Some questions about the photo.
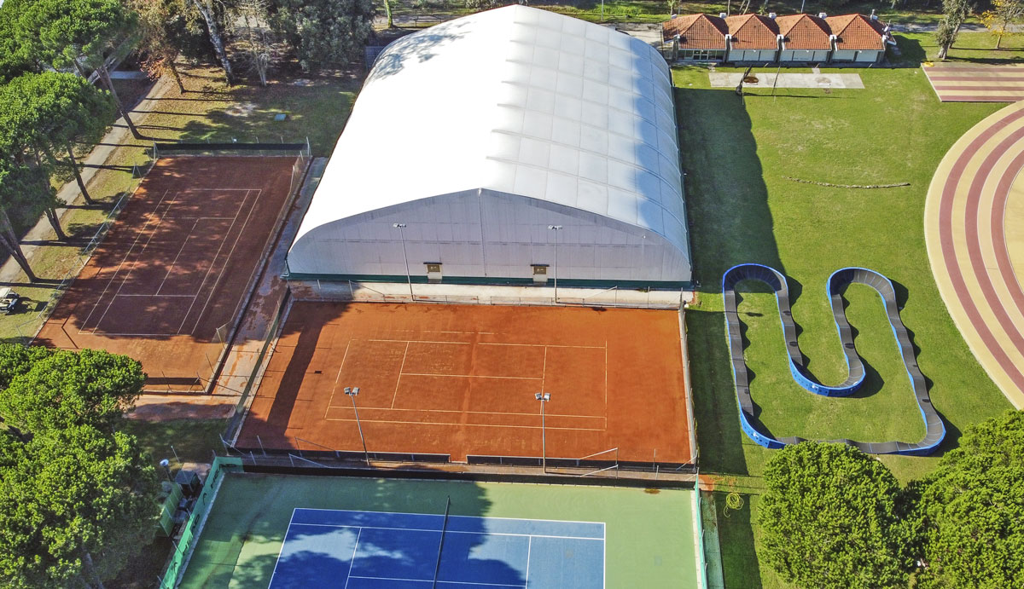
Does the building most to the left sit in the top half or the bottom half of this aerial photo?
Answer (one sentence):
You can find the building most to the left in the top half.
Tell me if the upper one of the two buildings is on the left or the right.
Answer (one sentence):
It is on the right.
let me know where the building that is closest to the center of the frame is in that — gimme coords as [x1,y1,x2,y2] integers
[283,4,704,290]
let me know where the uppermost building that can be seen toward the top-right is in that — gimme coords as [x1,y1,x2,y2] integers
[658,4,904,65]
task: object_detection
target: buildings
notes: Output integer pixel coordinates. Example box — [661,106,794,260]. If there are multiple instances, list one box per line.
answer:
[283,4,704,290]
[658,4,904,65]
